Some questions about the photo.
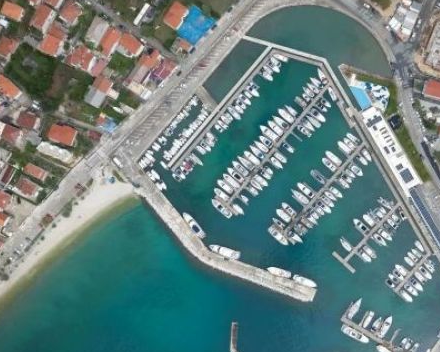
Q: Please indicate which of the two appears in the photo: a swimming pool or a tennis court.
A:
swimming pool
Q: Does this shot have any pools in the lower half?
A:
No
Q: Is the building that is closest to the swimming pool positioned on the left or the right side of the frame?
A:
right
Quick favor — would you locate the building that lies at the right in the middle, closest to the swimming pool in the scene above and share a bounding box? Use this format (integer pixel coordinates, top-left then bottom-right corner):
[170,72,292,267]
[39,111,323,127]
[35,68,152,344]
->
[361,108,424,197]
